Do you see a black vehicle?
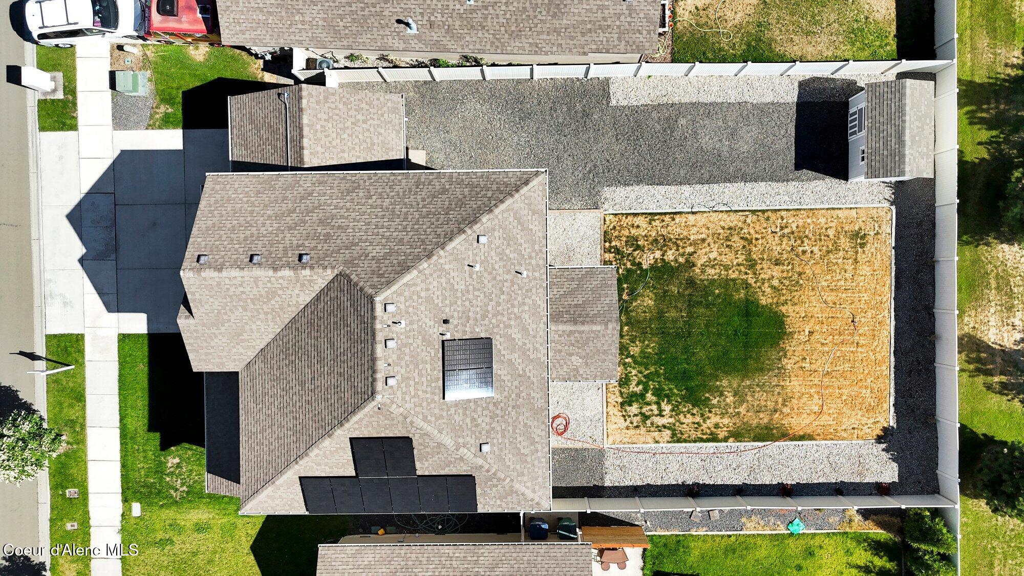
No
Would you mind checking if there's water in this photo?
No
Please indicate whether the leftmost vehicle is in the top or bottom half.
top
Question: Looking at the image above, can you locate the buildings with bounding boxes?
[177,83,620,517]
[315,533,593,576]
[848,79,935,182]
[214,0,660,60]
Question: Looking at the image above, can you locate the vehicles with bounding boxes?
[25,0,135,48]
[132,0,221,46]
